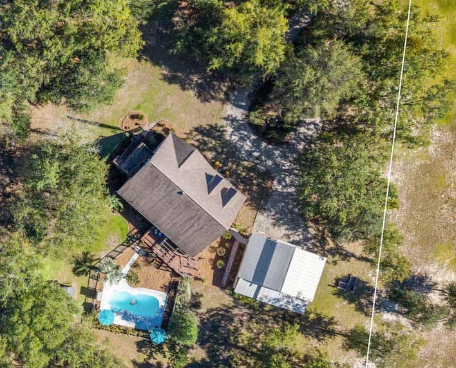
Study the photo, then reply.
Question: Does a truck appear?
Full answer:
No, the scene contains no truck.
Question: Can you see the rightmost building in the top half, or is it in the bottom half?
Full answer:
You can find the rightmost building in the bottom half.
